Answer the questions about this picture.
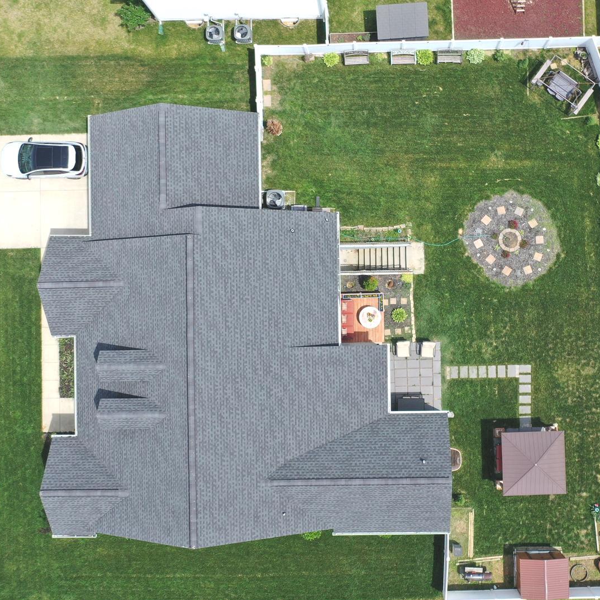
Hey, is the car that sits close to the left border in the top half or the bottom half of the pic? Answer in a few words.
top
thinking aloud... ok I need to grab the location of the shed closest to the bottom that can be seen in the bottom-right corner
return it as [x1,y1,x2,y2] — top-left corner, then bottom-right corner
[512,542,569,600]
